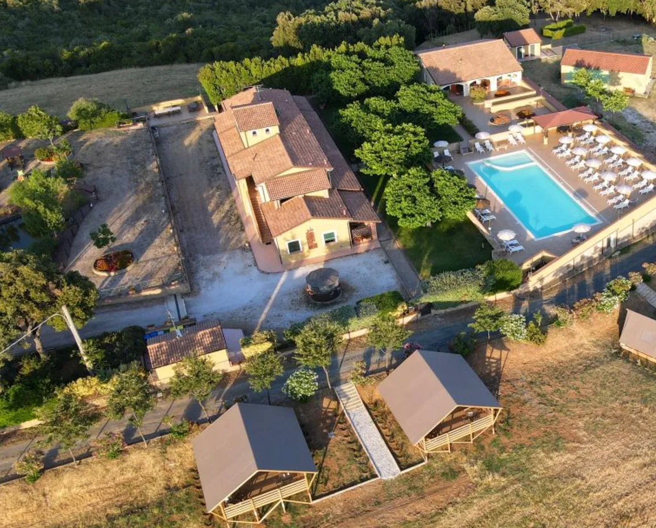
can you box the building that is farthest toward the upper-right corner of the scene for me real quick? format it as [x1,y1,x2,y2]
[560,47,653,99]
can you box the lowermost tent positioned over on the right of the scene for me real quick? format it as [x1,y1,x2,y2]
[382,345,511,464]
